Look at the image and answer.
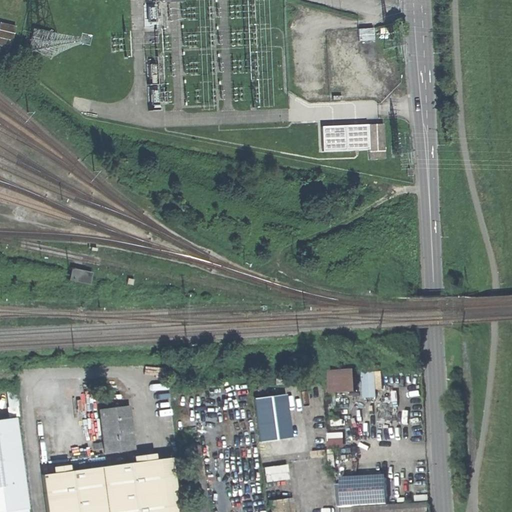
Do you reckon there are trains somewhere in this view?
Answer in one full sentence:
No, there isn't any train down there.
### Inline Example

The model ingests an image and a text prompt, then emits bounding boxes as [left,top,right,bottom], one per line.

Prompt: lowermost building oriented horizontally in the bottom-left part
[41,454,180,512]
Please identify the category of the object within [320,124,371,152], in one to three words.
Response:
building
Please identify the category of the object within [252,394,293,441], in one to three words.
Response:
building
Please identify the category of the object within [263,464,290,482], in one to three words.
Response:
shed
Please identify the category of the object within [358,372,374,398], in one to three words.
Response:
shed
